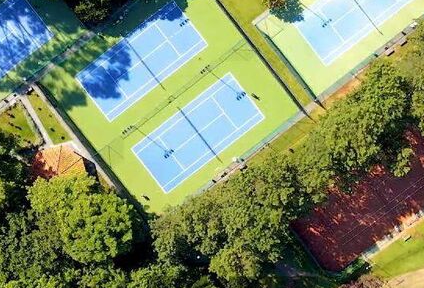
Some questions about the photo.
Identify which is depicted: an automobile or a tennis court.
tennis court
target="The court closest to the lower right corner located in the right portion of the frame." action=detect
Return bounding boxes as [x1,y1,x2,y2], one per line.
[282,107,424,272]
